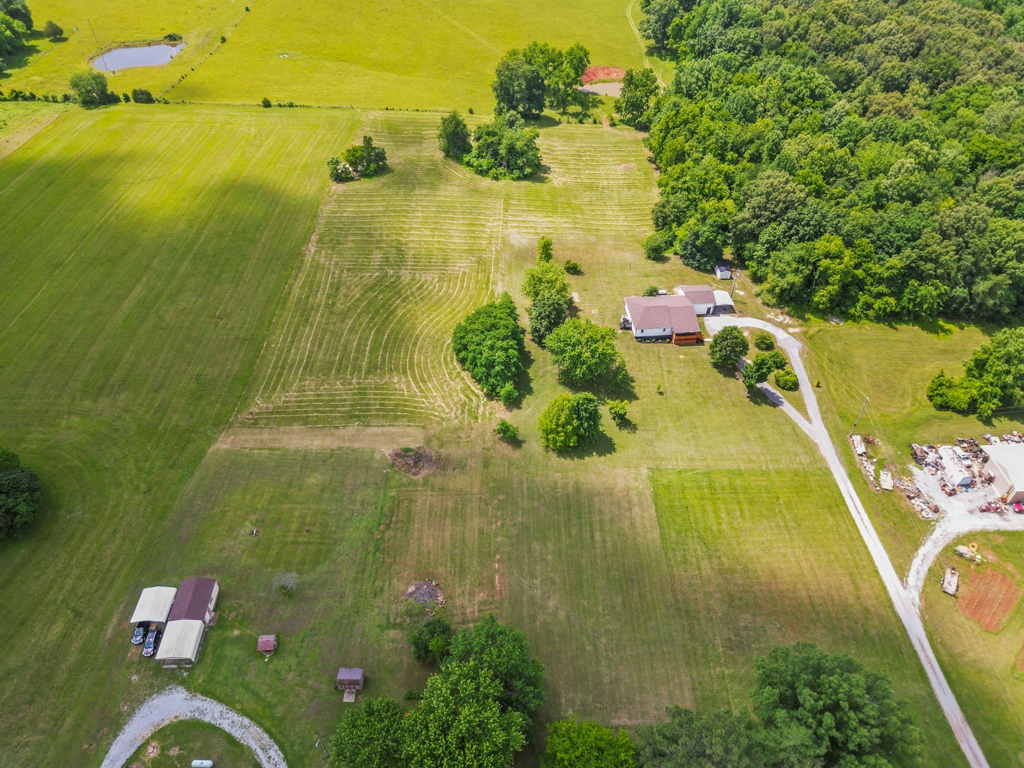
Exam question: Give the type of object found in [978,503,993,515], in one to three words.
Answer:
vehicle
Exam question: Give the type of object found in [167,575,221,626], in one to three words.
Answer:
building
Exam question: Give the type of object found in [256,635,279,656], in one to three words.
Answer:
building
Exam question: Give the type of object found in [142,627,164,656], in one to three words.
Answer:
car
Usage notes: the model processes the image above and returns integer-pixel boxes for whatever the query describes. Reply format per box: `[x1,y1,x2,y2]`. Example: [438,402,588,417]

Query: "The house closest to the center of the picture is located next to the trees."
[618,296,703,344]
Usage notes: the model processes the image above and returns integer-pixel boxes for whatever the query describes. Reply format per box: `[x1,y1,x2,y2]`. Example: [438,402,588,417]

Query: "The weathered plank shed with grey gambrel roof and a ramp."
[336,669,366,690]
